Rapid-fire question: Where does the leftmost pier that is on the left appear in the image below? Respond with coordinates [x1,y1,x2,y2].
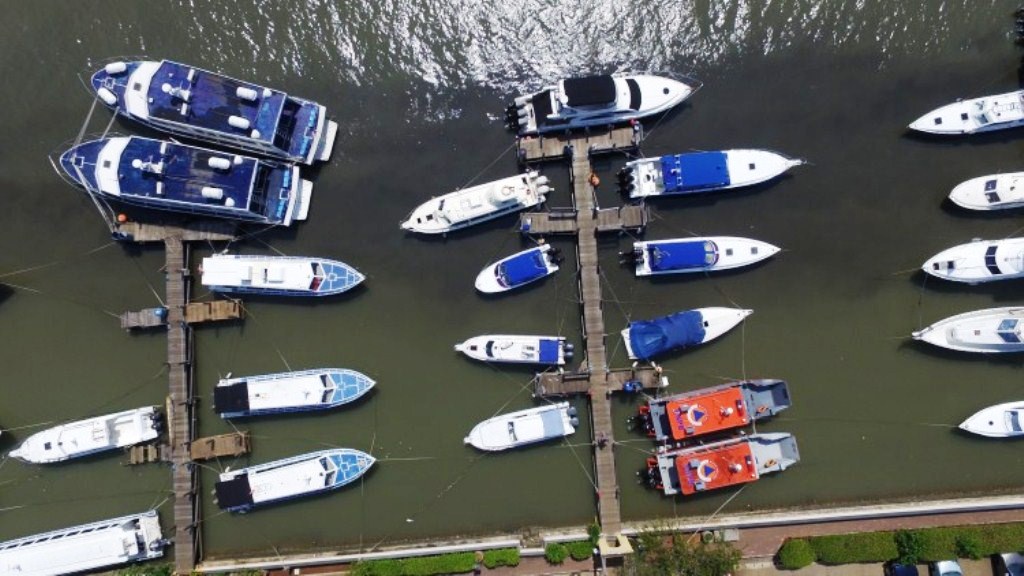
[119,217,241,571]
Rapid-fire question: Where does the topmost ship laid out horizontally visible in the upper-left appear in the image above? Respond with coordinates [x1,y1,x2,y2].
[80,56,341,167]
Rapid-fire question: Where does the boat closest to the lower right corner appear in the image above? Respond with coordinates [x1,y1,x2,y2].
[957,398,1024,439]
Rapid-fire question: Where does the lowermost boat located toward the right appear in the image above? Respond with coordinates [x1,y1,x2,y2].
[637,434,801,499]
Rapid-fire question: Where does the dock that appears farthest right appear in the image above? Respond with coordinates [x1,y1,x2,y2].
[518,124,663,538]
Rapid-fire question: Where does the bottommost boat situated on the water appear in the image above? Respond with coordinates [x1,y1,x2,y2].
[0,510,176,576]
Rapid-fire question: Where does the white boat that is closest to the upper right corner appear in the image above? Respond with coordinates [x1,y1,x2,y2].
[907,90,1024,135]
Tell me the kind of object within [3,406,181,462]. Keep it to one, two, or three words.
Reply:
boat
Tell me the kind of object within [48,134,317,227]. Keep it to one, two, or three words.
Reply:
ship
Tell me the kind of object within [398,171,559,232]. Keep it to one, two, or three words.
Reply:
boat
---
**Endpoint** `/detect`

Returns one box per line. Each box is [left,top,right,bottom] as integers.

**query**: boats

[948,173,1024,212]
[637,434,801,499]
[630,379,792,443]
[610,151,800,198]
[921,236,1024,283]
[510,76,701,135]
[459,401,582,449]
[3,406,181,462]
[398,171,559,232]
[0,510,176,576]
[907,90,1024,135]
[957,398,1024,439]
[214,368,376,416]
[200,248,367,295]
[475,243,571,290]
[452,334,573,367]
[215,450,376,513]
[621,307,756,360]
[904,306,1024,355]
[616,238,781,275]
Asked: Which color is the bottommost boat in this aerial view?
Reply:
white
